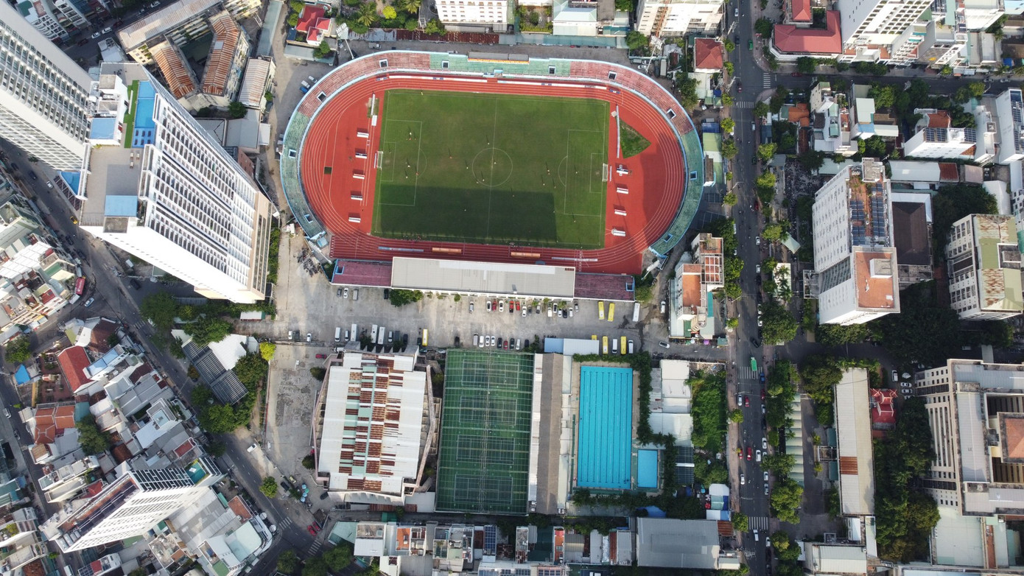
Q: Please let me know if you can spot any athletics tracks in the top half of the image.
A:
Yes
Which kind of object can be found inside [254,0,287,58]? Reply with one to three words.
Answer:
shed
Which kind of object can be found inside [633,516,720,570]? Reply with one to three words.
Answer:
building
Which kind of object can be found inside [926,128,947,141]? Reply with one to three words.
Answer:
solar array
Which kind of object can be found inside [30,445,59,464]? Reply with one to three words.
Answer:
house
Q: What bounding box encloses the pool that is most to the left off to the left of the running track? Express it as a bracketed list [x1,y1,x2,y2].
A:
[60,171,78,191]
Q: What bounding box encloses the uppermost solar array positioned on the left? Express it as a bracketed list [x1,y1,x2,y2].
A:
[77,485,140,535]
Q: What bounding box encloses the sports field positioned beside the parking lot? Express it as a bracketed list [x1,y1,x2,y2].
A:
[371,89,609,248]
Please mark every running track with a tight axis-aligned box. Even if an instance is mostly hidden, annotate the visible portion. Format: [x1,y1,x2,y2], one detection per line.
[303,75,683,274]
